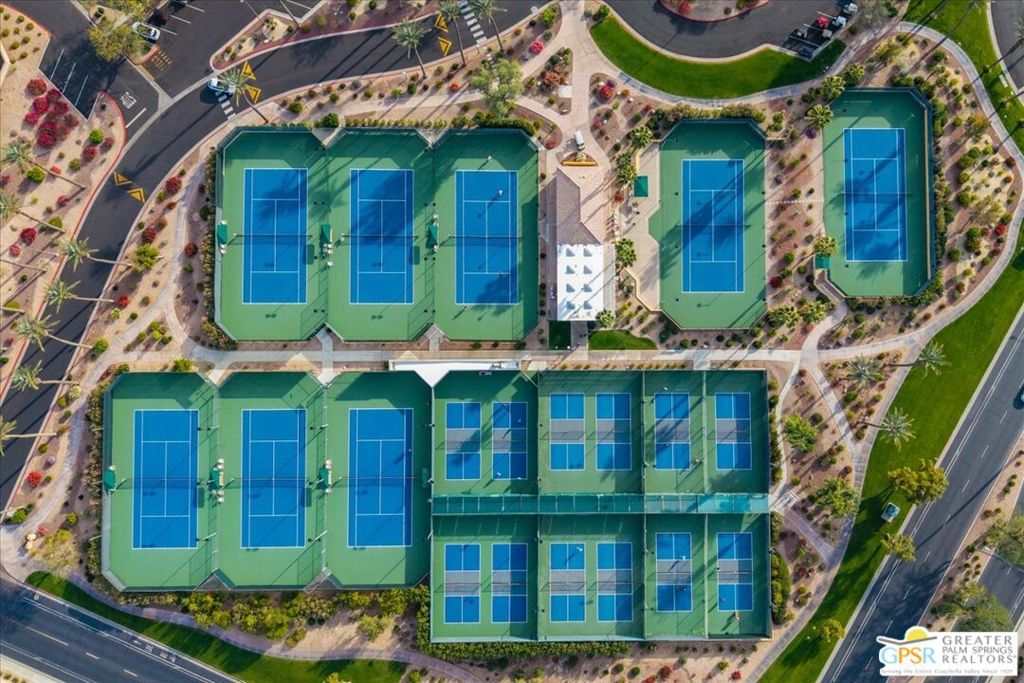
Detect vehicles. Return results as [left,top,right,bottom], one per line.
[149,7,177,27]
[793,24,812,39]
[208,78,235,98]
[573,134,584,151]
[818,26,837,41]
[133,22,160,42]
[843,1,862,17]
[814,14,832,30]
[797,44,816,59]
[831,14,850,29]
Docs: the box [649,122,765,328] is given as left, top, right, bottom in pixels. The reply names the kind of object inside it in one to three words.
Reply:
tennis court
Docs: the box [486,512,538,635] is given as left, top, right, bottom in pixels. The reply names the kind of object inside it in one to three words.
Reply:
sports court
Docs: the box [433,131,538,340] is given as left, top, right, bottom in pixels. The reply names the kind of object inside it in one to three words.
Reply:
tennis court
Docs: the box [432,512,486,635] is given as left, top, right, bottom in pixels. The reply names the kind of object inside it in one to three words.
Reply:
sports court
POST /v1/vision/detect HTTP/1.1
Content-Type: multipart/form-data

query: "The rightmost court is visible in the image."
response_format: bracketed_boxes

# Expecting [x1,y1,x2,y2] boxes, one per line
[822,92,927,296]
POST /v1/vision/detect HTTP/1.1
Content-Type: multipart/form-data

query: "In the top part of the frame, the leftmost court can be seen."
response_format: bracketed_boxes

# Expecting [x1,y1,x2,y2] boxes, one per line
[222,131,325,340]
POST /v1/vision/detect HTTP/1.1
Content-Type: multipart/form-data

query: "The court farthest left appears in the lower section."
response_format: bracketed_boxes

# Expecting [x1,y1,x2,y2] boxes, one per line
[111,374,216,586]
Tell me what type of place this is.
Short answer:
sports ground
